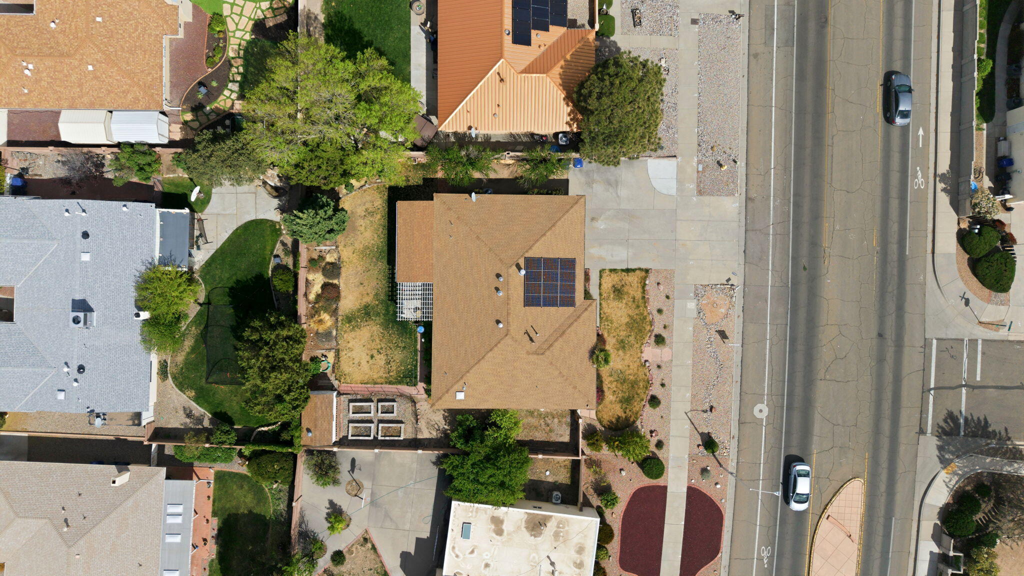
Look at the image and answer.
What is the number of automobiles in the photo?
2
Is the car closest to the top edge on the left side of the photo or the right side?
right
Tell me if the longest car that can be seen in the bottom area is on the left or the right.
right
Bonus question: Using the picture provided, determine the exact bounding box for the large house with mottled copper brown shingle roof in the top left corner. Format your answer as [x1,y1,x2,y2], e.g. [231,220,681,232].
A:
[0,0,184,111]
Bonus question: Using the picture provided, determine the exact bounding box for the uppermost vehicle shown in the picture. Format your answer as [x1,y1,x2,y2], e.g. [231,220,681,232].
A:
[888,72,919,126]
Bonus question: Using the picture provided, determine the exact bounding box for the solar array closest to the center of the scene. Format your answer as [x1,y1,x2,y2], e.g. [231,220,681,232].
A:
[525,257,576,308]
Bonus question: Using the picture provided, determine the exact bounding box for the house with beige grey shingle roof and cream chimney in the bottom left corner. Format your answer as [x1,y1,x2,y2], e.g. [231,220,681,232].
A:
[0,461,166,576]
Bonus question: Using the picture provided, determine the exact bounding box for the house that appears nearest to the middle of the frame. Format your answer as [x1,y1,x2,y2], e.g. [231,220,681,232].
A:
[395,193,597,410]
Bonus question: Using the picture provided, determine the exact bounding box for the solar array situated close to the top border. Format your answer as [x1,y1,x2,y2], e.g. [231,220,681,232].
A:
[513,0,568,45]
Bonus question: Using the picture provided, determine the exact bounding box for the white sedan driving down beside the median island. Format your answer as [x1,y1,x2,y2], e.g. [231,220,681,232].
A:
[785,456,814,509]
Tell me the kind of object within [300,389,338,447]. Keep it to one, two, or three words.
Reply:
shed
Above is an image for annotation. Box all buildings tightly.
[442,495,601,576]
[0,197,157,412]
[395,193,597,410]
[0,0,184,111]
[1005,107,1024,208]
[0,461,166,576]
[437,0,597,132]
[300,389,338,447]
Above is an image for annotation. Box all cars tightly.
[785,456,814,509]
[888,72,919,126]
